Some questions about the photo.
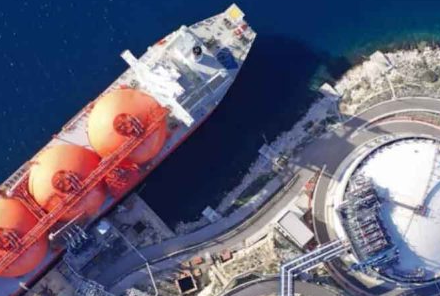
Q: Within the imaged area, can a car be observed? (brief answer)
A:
No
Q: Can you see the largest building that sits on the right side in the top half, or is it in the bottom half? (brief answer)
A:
bottom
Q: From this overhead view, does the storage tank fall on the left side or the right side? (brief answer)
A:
right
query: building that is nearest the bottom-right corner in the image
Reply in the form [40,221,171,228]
[278,211,314,246]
